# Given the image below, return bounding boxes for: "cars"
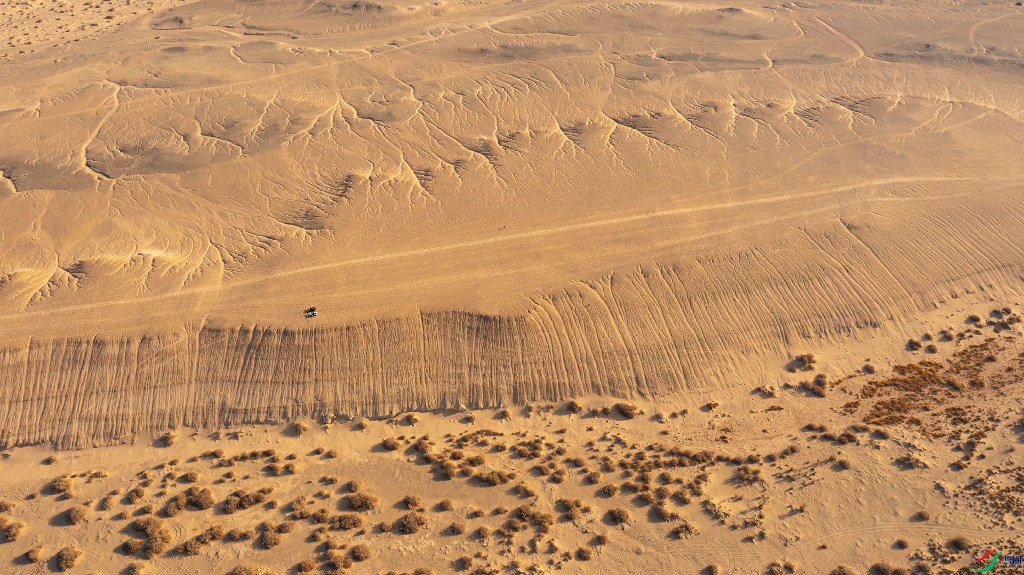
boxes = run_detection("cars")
[308,306,317,312]
[309,311,318,316]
